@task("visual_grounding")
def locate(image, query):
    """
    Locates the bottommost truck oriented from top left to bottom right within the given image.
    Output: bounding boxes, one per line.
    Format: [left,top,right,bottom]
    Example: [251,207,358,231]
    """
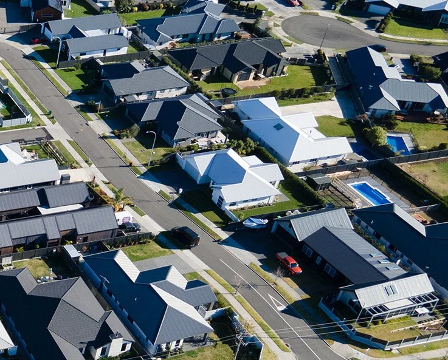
[272,252,306,278]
